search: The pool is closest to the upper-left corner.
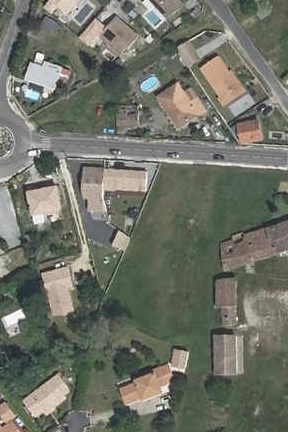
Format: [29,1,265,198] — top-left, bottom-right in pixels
[77,2,95,26]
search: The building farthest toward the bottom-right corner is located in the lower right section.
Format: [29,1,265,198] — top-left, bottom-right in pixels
[213,335,245,376]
